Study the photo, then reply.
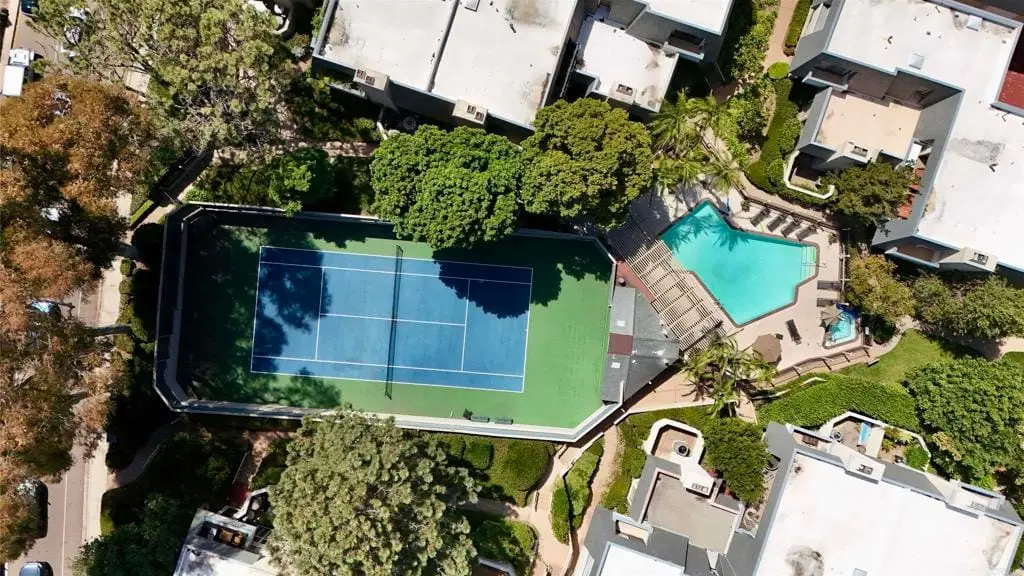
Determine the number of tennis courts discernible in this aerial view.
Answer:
1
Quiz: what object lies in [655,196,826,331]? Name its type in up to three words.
swimming pool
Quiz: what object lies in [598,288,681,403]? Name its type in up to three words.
building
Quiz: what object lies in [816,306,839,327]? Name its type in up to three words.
umbrella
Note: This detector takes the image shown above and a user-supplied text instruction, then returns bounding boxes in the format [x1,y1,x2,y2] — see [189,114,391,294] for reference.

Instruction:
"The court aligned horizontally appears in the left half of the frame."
[180,215,610,426]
